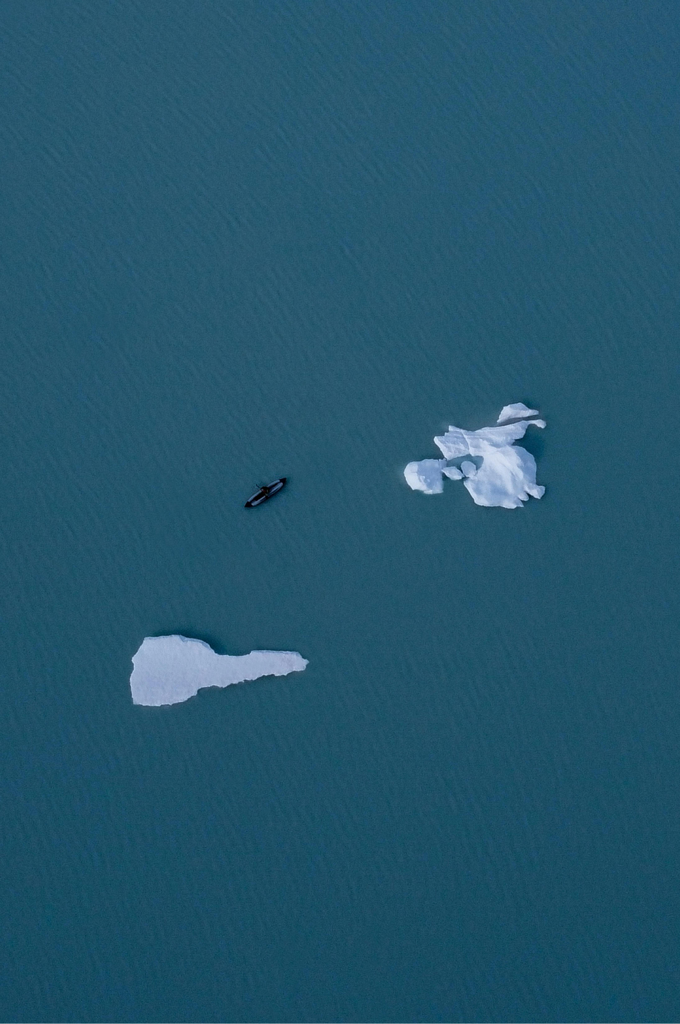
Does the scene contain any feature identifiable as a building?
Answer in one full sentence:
No, there's no building here.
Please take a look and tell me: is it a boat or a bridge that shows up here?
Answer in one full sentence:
The image shows a boat.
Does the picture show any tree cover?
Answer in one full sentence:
No, no tree cover is visible.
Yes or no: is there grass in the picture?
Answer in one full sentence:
No, the scene doesn't show any grass.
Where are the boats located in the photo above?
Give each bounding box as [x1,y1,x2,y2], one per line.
[244,478,286,507]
